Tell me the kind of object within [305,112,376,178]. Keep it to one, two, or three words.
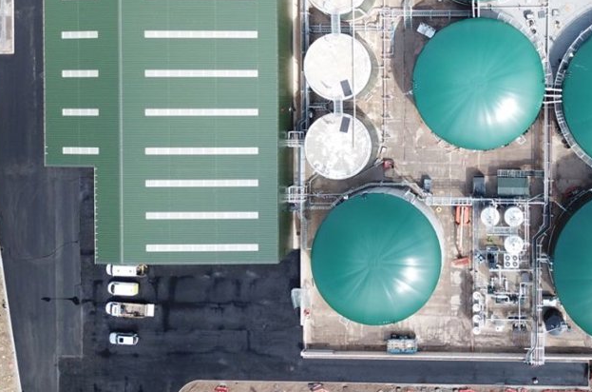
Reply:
storage tank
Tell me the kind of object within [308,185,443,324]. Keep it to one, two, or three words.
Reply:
storage tank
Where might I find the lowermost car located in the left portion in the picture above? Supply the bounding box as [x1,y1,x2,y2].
[107,332,136,347]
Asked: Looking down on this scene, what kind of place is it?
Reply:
industrial area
